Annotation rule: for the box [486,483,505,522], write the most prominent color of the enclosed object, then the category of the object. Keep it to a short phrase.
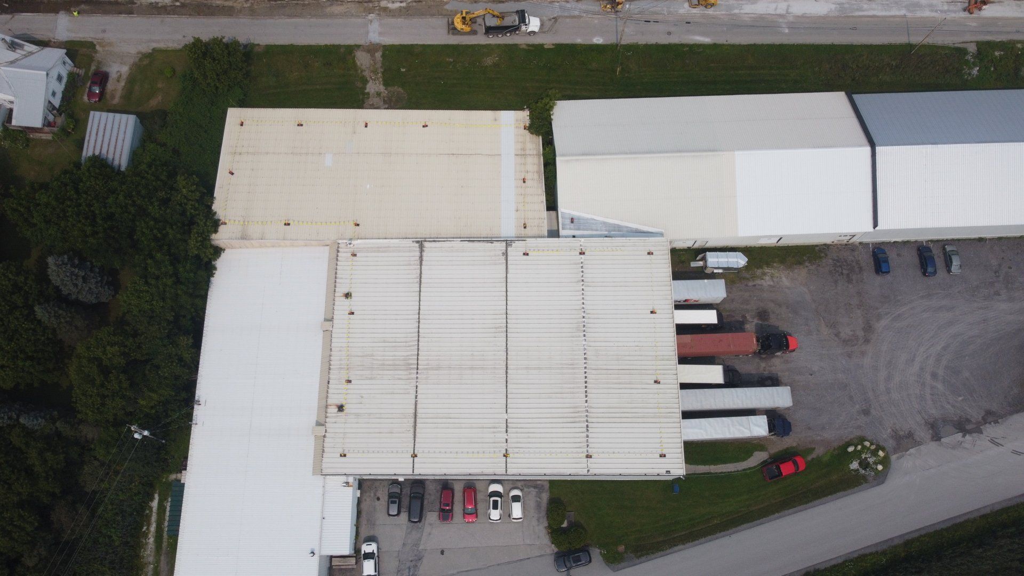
white car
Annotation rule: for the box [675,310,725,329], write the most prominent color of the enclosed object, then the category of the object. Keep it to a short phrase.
white vehicle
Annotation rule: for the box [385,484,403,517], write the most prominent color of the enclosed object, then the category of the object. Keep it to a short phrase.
gray car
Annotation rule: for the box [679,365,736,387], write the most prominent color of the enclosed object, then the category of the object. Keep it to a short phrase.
white truck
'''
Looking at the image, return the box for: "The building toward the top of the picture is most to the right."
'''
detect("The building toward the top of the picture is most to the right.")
[850,89,1024,243]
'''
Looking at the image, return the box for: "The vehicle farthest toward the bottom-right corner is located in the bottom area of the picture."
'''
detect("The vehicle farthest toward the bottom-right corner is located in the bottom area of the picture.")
[765,457,807,480]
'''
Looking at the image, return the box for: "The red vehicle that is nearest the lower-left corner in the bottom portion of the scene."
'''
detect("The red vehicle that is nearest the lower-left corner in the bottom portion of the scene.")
[437,489,455,522]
